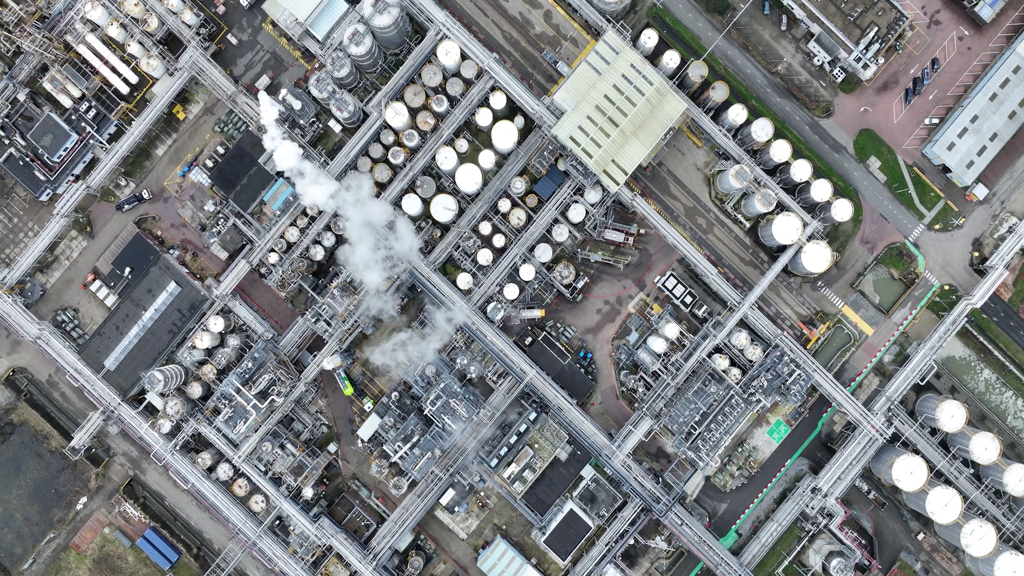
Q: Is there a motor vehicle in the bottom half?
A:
Yes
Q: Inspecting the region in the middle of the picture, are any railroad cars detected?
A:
No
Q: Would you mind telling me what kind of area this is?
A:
industrial area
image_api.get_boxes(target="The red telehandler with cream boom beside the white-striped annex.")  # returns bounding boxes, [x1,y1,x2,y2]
[77,272,99,293]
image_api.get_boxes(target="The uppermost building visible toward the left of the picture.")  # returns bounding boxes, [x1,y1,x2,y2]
[260,0,351,62]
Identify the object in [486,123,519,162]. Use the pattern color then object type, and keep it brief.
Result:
white storage tank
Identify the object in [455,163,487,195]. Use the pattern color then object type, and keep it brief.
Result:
white storage tank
